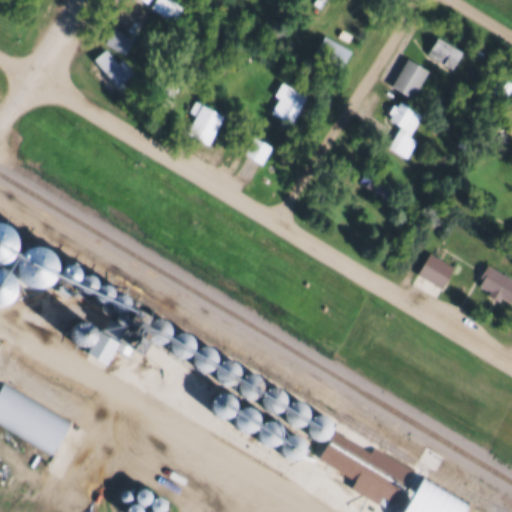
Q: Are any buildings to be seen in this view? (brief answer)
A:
Yes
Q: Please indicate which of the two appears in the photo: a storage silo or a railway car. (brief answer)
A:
storage silo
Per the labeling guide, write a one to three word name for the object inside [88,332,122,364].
shed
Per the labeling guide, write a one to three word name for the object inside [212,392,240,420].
silo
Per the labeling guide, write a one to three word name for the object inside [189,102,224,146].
house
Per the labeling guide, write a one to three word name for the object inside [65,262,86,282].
silo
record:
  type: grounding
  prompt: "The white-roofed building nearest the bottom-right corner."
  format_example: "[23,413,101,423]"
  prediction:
[404,478,470,512]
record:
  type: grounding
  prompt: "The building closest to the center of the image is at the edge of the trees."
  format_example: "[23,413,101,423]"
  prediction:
[246,138,273,166]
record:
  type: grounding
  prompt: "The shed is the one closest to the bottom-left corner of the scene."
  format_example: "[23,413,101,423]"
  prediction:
[0,385,71,454]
